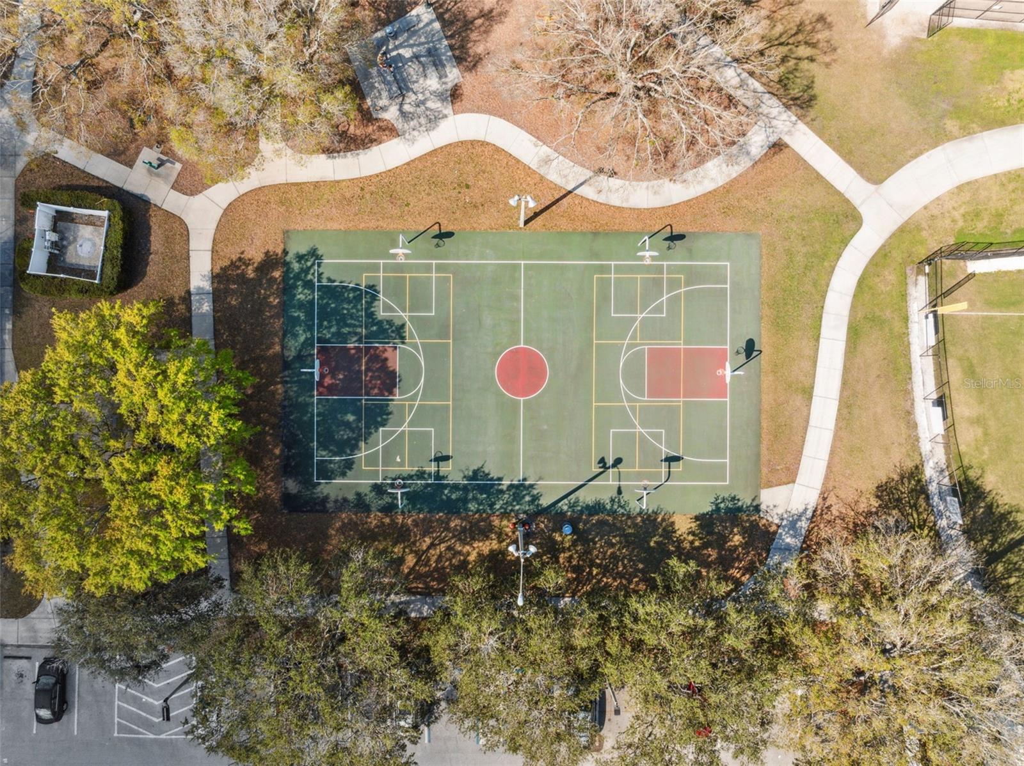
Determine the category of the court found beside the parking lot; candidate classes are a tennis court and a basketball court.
basketball court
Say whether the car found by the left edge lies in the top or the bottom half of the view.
bottom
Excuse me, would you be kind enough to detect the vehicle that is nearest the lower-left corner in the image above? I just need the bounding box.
[30,661,67,727]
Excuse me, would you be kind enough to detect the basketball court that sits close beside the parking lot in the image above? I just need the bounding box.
[283,230,761,514]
